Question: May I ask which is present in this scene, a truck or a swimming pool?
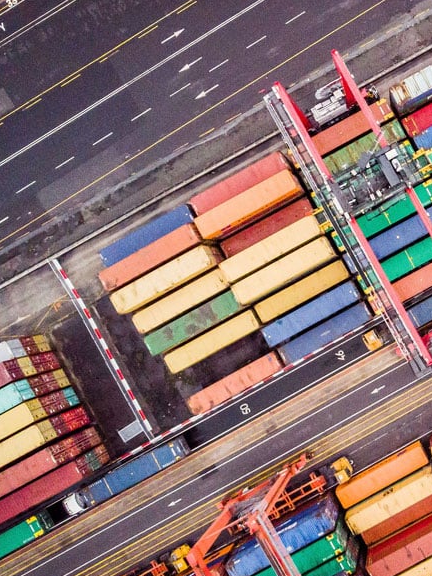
truck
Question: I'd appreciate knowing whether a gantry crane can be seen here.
Yes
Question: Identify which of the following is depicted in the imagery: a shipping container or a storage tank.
shipping container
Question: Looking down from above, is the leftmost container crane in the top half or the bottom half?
bottom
